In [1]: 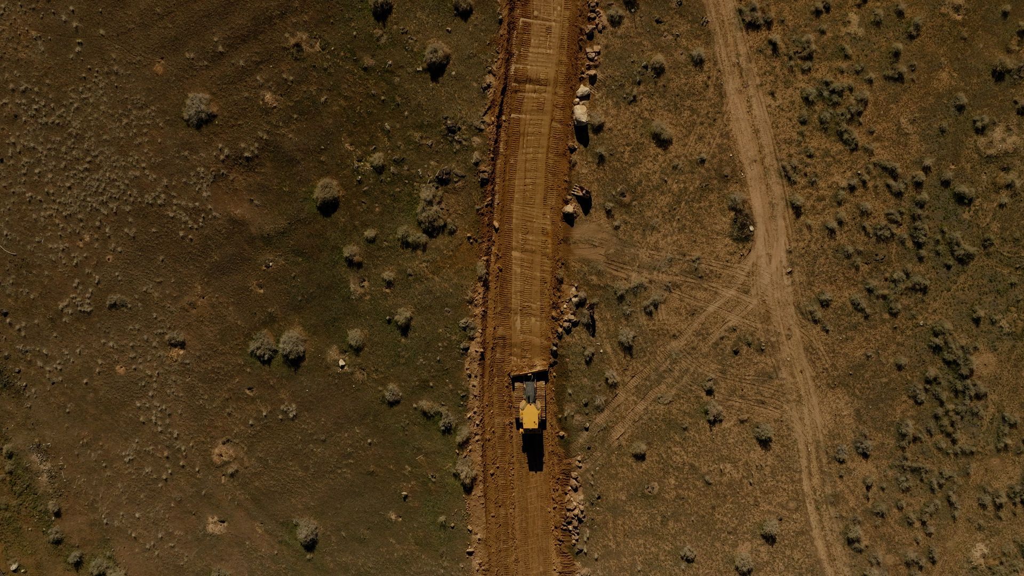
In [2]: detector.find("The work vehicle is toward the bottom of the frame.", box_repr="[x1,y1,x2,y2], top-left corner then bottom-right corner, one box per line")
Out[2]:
[510,365,548,433]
